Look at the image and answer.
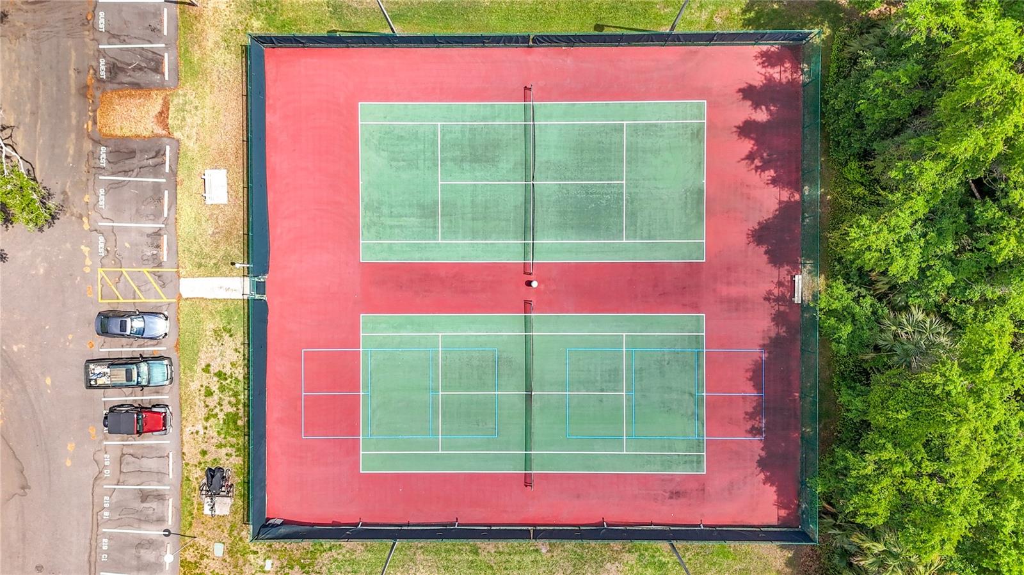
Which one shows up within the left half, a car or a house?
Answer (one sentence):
Visible within the left half is a car.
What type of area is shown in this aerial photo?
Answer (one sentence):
This image shows a sports ground.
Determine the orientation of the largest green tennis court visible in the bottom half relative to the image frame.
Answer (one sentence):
Seen from above, the largest green tennis court visible in the bottom half lies from side to side.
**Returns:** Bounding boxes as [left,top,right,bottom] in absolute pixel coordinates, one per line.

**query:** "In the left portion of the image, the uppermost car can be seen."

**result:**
[94,308,170,341]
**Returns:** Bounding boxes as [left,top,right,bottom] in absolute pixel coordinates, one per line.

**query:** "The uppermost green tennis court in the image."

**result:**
[359,100,706,262]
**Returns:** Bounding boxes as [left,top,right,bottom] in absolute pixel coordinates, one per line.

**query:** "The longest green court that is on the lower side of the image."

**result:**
[360,314,706,474]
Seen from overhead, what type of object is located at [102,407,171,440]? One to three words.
car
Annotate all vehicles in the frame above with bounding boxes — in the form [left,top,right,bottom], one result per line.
[94,308,170,341]
[102,407,171,440]
[82,355,173,394]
